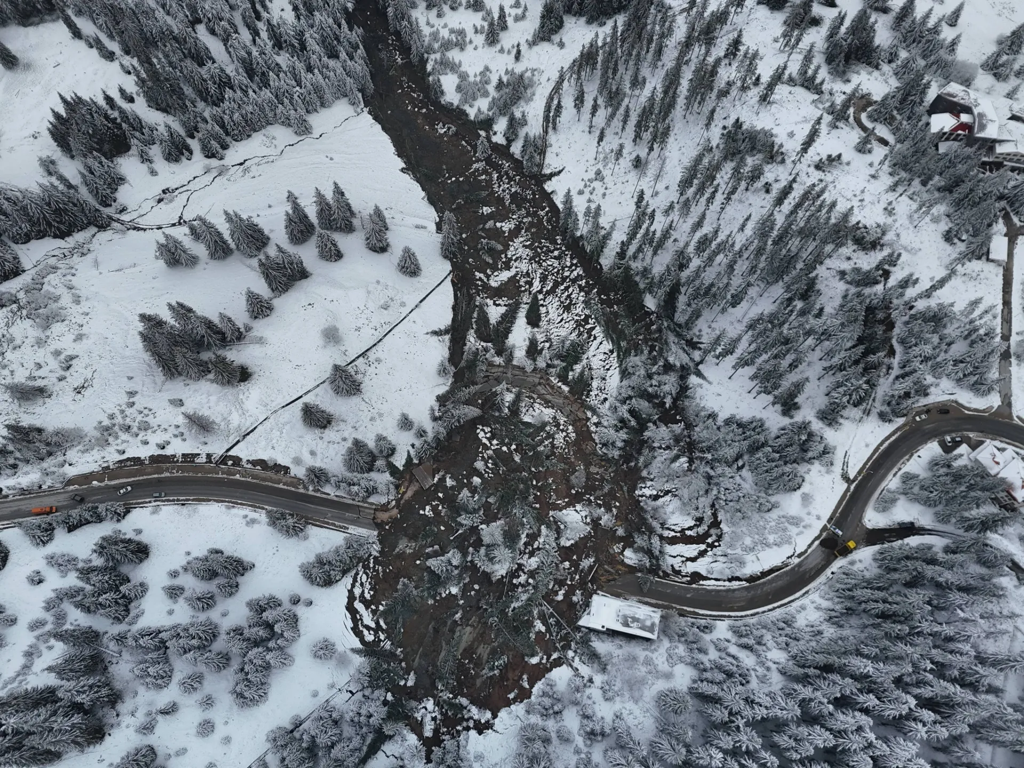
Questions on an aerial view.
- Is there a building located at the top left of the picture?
No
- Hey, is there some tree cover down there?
Yes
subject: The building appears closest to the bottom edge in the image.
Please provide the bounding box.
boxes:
[577,594,661,640]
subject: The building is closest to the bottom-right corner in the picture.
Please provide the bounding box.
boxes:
[948,441,1024,513]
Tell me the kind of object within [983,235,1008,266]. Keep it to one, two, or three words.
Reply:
building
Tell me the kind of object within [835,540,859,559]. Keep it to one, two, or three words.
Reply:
vehicle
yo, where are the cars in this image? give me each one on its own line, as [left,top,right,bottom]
[945,434,955,448]
[150,491,166,498]
[115,484,132,495]
[916,412,929,421]
[953,437,966,443]
[829,525,843,537]
[68,492,84,503]
[938,407,952,413]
